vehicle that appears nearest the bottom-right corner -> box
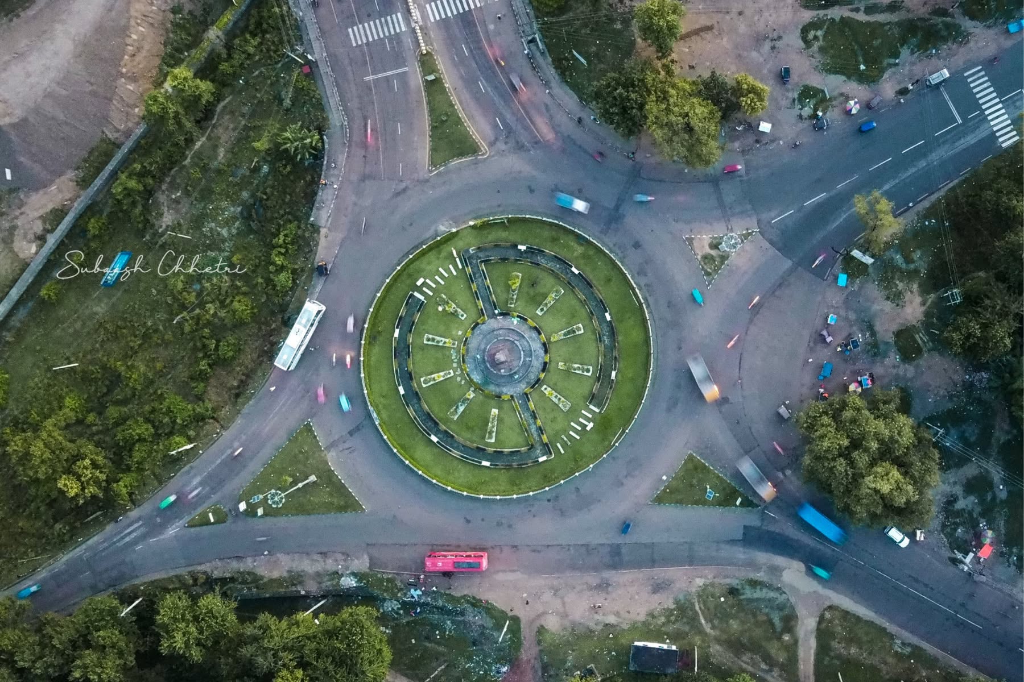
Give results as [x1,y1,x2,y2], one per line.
[881,525,908,548]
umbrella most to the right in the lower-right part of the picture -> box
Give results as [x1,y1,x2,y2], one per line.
[978,529,995,544]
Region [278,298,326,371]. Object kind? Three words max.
bus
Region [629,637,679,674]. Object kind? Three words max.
house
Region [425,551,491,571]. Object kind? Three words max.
bus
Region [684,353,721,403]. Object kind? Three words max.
truck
